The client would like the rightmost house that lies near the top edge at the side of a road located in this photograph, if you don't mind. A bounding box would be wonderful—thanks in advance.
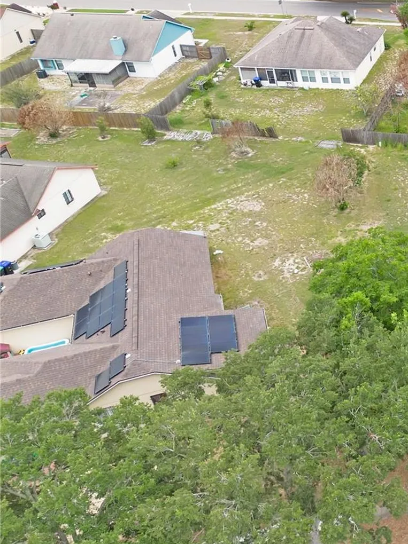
[234,16,387,91]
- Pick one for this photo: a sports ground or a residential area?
residential area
